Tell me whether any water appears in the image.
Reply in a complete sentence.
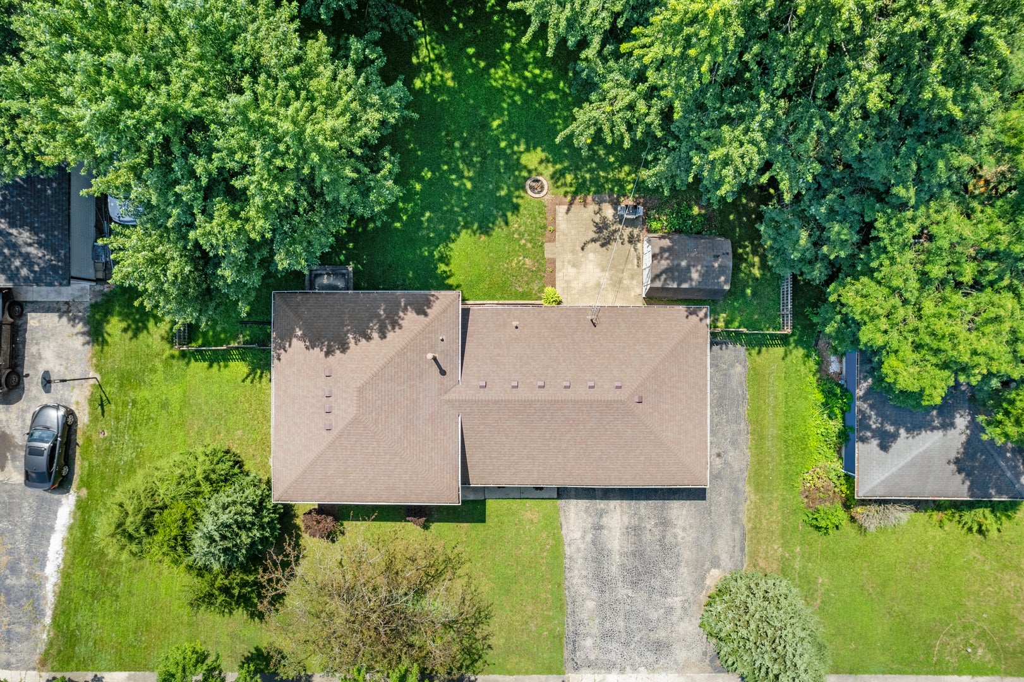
No, no water is visible.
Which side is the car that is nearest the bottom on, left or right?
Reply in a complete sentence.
The car that is nearest the bottom appears in the left half of the scene.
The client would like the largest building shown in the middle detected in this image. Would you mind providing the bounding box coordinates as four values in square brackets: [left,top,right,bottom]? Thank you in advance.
[272,291,710,505]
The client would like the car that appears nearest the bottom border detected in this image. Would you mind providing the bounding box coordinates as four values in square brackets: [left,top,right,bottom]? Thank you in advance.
[22,401,74,491]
